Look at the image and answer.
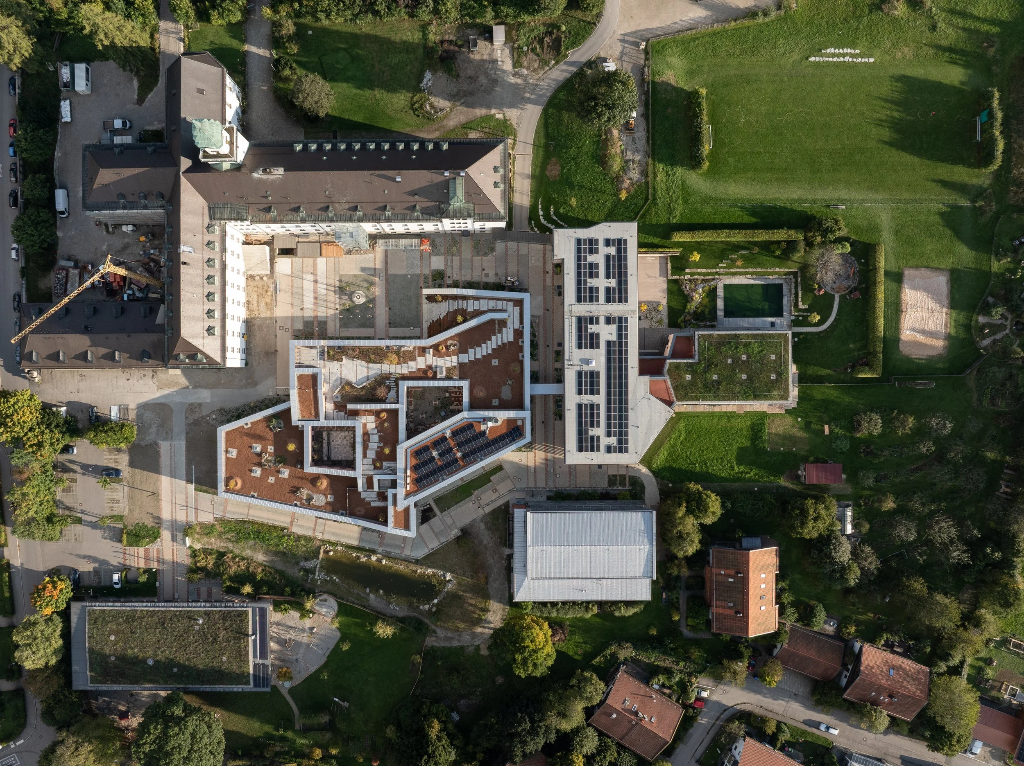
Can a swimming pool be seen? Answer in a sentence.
Yes, the frame does contain a swimming pool.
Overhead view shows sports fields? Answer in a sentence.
Yes, you can see a sports field in this photo.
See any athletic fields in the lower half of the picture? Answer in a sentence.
No, I can find no athletic field in the lower half of the picture.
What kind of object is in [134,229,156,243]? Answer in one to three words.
work vehicle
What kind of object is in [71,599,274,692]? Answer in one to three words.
building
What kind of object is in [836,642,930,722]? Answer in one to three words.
house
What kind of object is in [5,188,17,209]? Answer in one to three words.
vehicle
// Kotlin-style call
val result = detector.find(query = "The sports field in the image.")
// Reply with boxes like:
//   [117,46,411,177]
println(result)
[638,13,999,232]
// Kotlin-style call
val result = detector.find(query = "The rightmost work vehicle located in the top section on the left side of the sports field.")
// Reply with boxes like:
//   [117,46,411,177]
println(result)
[626,111,638,137]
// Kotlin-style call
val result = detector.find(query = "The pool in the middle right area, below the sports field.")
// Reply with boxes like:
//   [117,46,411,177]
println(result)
[717,278,791,327]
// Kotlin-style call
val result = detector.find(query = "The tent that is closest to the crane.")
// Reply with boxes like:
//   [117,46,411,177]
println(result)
[242,244,270,274]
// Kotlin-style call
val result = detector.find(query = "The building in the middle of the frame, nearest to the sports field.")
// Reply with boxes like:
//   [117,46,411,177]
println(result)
[552,221,675,464]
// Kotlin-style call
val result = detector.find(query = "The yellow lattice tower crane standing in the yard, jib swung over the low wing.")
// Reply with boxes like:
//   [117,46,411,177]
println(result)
[10,253,165,342]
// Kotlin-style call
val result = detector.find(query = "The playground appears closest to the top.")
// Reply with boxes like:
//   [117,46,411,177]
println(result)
[271,603,341,694]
